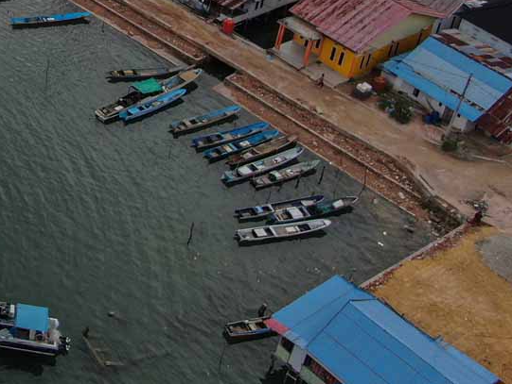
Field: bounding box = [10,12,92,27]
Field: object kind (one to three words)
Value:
boat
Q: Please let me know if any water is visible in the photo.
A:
Yes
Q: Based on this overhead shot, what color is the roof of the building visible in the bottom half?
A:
blue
